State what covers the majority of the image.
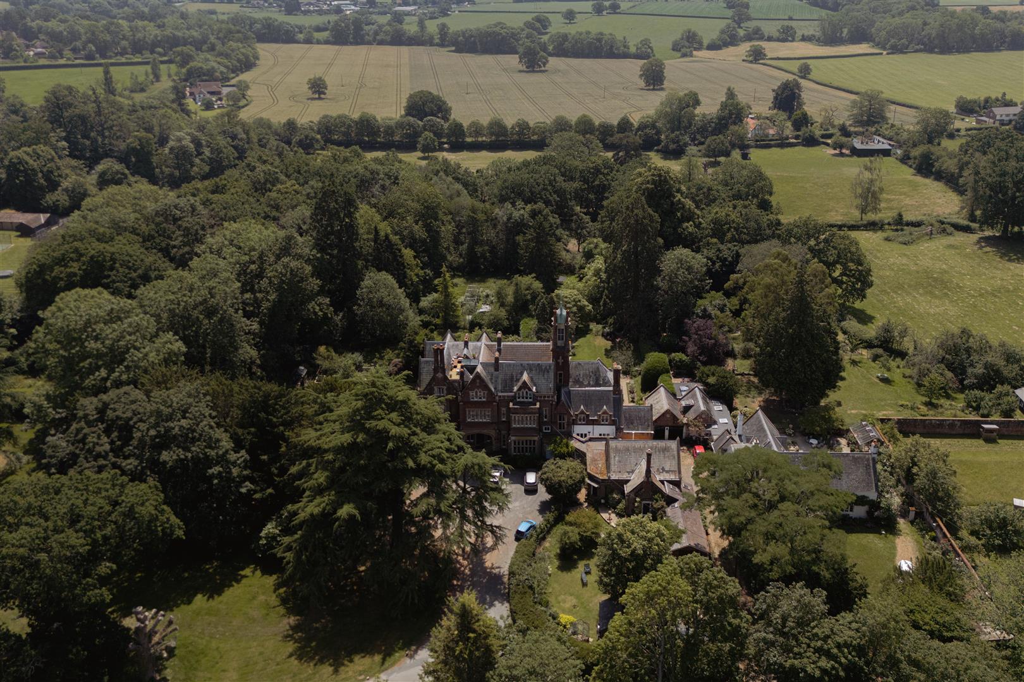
trees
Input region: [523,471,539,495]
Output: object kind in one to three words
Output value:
car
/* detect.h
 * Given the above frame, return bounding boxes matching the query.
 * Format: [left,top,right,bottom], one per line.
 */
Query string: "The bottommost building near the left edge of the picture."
[0,205,60,238]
